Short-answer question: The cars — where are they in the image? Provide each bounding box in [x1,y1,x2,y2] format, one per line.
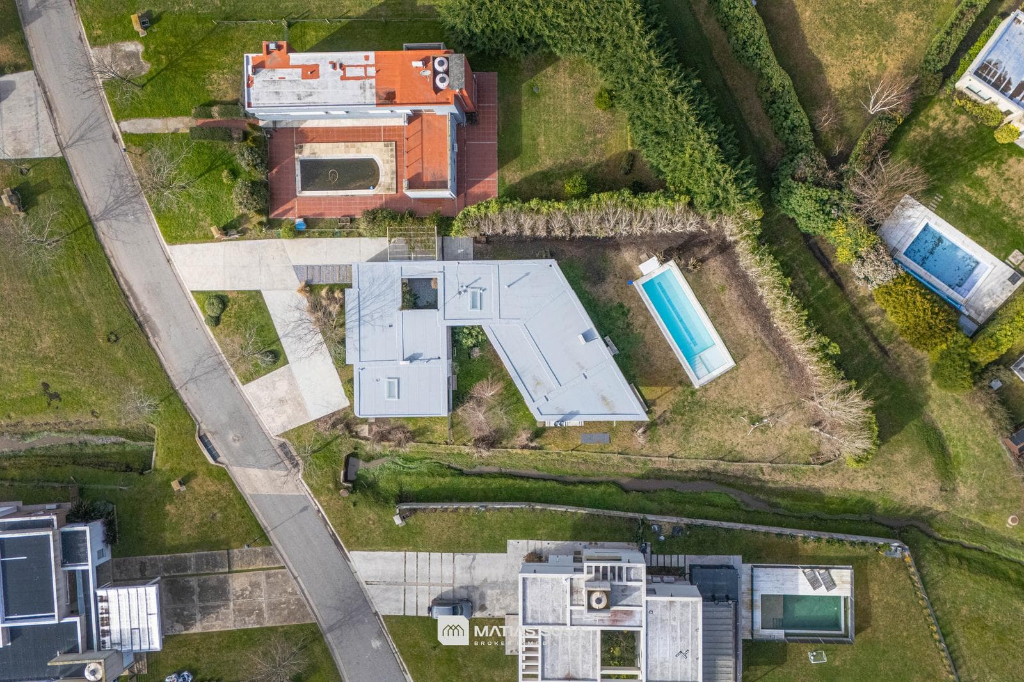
[425,598,472,623]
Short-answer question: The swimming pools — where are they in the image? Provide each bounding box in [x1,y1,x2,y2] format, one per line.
[634,260,735,388]
[295,142,396,194]
[876,197,1024,324]
[752,566,850,638]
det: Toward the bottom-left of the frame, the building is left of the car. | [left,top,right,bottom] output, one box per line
[0,510,175,682]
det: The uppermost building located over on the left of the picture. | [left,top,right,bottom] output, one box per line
[245,41,476,199]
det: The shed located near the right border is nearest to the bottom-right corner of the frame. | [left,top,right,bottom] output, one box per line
[994,422,1024,463]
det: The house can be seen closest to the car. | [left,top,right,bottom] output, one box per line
[519,550,738,682]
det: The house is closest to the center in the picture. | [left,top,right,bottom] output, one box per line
[345,259,648,425]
